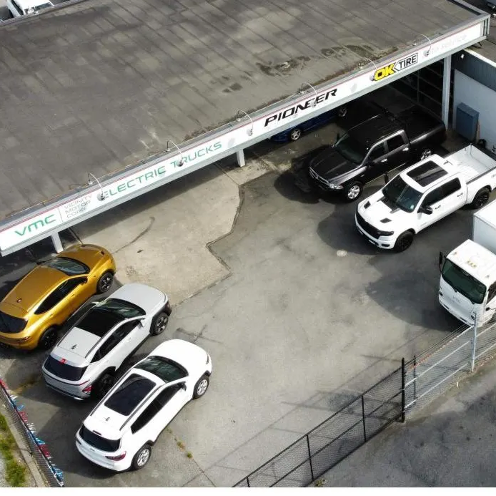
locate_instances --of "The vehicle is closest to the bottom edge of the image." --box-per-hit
[75,345,211,478]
